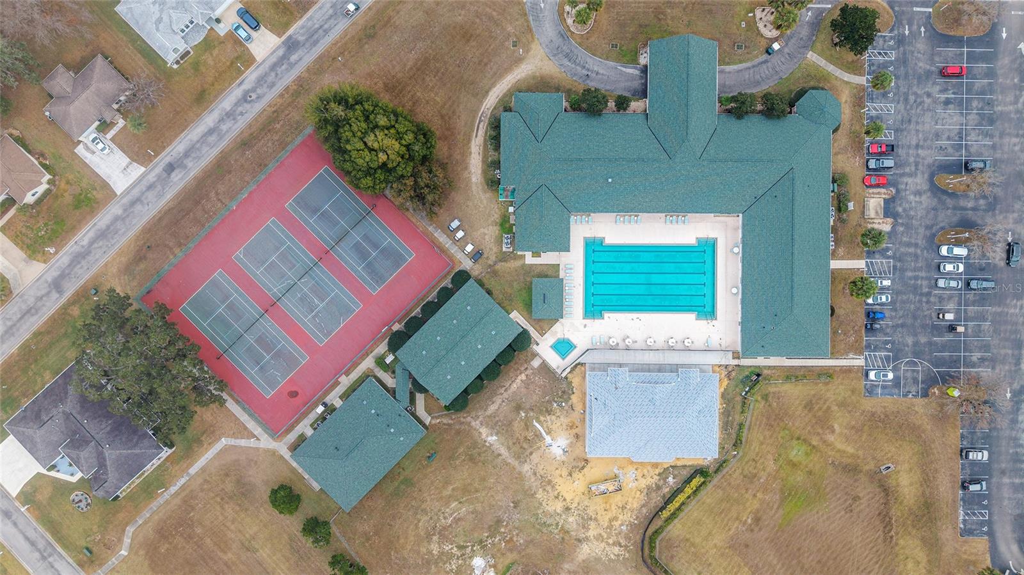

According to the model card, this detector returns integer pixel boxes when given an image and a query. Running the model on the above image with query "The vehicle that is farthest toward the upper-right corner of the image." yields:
[940,64,966,77]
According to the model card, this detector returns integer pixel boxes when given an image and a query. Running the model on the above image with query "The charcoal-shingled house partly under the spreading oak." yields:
[3,362,167,502]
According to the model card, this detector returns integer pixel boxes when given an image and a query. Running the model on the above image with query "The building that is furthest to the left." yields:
[0,126,56,205]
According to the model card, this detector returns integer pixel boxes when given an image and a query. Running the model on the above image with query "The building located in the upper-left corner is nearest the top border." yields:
[114,0,239,68]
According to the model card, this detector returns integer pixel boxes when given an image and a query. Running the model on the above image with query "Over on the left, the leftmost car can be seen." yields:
[88,132,112,155]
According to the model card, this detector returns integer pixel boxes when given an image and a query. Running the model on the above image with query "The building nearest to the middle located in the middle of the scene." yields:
[532,278,563,319]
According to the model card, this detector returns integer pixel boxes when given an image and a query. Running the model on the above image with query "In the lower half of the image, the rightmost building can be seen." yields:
[586,368,719,461]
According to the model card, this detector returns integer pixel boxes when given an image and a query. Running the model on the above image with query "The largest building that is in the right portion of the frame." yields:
[500,34,842,358]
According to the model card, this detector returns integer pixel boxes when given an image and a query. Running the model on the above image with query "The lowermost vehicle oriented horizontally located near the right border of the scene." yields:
[961,480,986,492]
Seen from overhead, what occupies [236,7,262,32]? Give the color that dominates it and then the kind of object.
blue car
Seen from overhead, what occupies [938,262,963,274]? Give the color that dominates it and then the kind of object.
white vehicle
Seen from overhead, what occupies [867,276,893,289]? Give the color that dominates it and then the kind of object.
white vehicle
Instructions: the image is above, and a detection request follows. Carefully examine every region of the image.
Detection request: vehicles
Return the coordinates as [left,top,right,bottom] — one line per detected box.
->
[231,21,254,45]
[960,449,989,462]
[961,480,986,492]
[965,159,992,171]
[88,132,112,155]
[938,244,969,257]
[938,262,963,274]
[448,219,460,231]
[937,313,955,320]
[313,402,328,416]
[867,369,894,382]
[236,7,262,32]
[463,242,475,254]
[862,175,887,186]
[471,251,483,263]
[940,64,966,77]
[1004,242,1022,267]
[948,325,966,332]
[864,293,891,305]
[967,278,996,291]
[934,277,961,289]
[454,229,466,241]
[867,142,894,154]
[867,276,893,289]
[867,158,895,170]
[865,322,879,329]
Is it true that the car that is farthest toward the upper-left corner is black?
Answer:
No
